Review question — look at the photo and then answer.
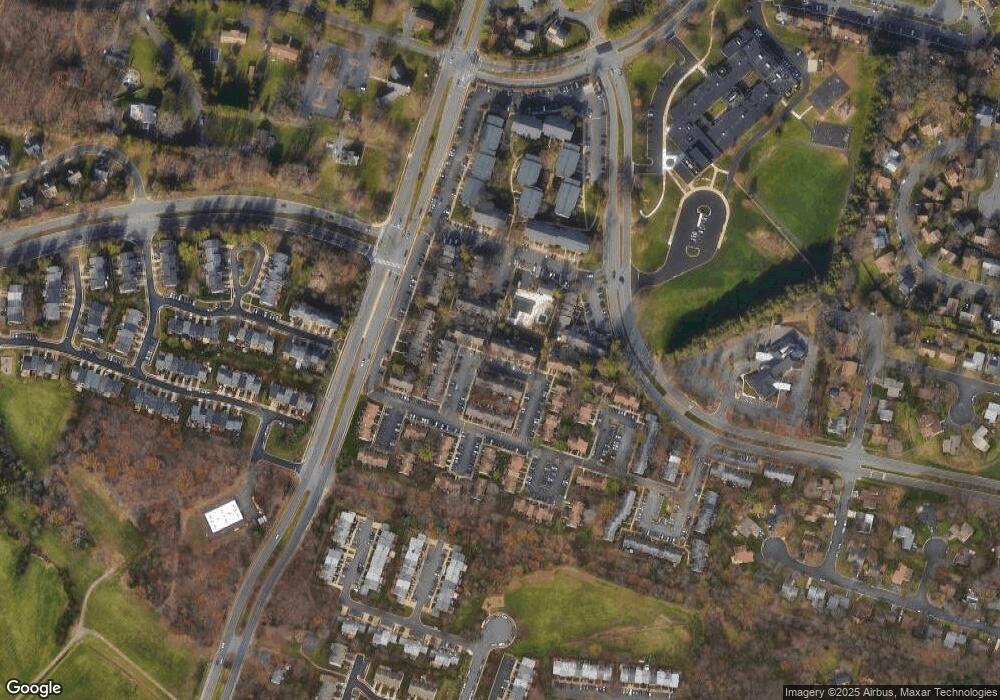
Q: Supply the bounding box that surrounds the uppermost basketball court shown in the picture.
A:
[810,73,851,113]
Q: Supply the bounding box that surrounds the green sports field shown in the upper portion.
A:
[747,131,847,258]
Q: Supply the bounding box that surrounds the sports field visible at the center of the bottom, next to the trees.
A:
[510,574,691,651]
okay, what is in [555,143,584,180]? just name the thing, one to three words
building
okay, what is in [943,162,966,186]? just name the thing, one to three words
house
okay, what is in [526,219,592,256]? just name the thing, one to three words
building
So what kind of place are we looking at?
residential area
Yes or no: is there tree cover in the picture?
Yes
